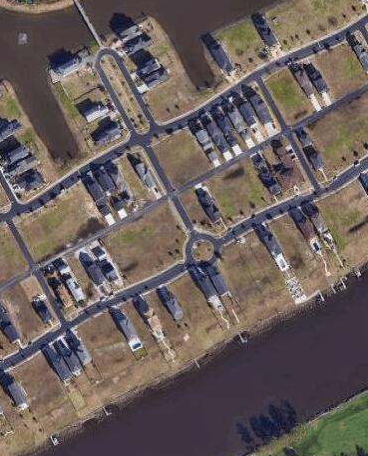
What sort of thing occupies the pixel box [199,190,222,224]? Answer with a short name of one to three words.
house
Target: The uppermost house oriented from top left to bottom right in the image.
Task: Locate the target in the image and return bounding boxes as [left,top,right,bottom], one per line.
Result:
[257,18,280,48]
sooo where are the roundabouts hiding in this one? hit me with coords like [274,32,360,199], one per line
[183,230,224,269]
